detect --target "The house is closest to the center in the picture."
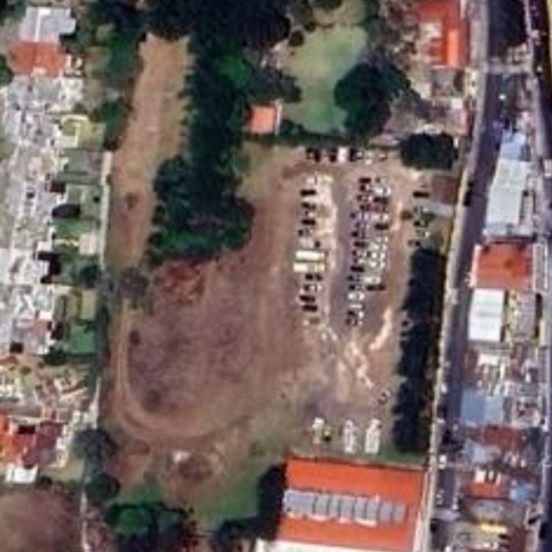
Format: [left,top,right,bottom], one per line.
[245,99,282,140]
